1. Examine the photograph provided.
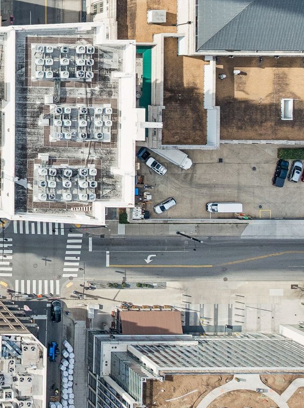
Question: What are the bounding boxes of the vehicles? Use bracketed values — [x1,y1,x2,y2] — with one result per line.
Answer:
[272,159,287,186]
[152,195,176,214]
[46,336,57,359]
[50,299,62,323]
[209,202,241,212]
[286,160,302,183]
[144,157,167,176]
[143,148,192,174]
